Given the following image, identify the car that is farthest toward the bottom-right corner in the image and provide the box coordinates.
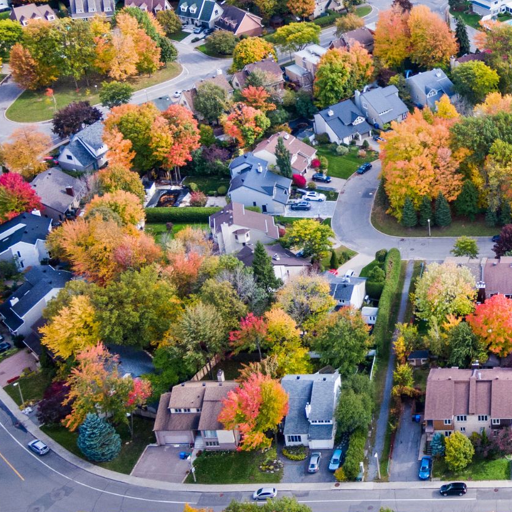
[439,478,466,493]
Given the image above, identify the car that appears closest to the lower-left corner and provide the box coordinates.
[26,435,48,453]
